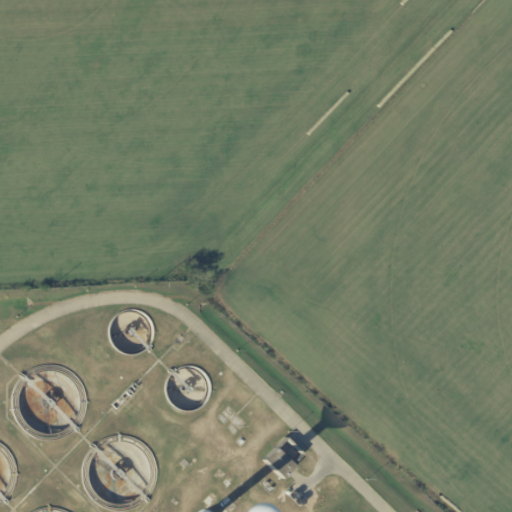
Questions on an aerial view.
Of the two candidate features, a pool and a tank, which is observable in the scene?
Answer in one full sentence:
I can see a tank in this picture.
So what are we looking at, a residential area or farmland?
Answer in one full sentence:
This looks like farmland.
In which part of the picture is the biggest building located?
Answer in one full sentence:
The biggest building is located in the bottom region of the scene.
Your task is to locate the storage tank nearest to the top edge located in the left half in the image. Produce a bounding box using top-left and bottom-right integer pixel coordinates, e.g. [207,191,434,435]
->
[108,308,156,355]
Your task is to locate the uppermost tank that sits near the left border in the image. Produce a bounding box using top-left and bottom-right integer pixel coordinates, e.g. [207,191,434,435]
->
[11,364,88,440]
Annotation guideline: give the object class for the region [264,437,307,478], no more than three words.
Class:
building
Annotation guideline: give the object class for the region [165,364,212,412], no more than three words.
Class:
storage tank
